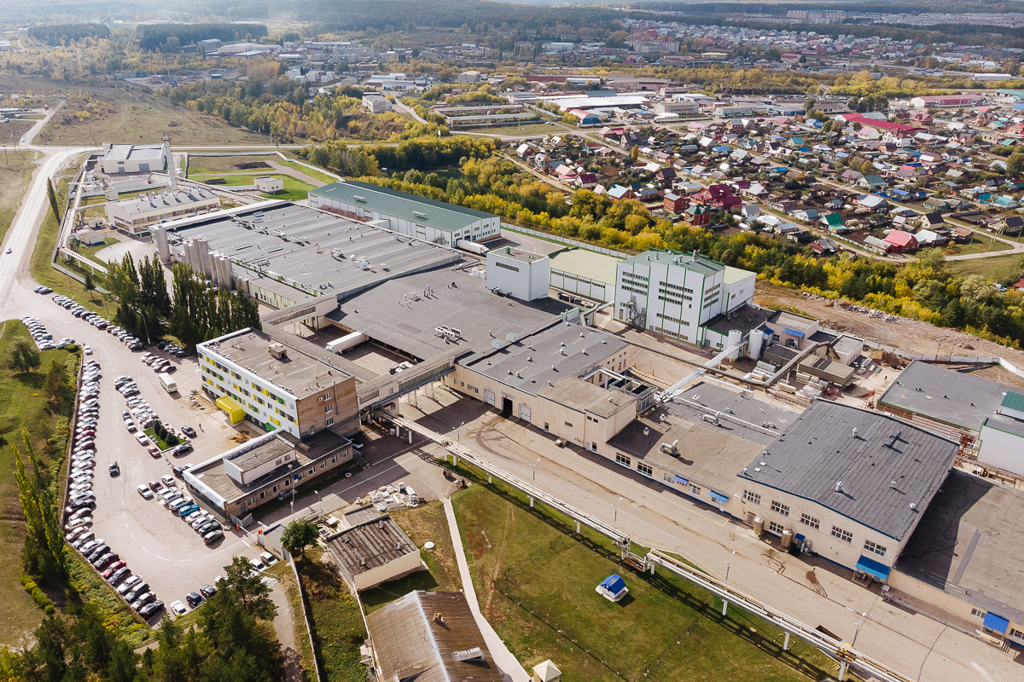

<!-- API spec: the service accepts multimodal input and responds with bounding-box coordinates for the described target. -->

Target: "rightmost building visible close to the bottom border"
[883,467,1024,660]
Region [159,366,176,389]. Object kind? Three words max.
vehicle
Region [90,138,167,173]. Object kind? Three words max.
building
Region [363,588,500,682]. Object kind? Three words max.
house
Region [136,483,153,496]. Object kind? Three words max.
vehicle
